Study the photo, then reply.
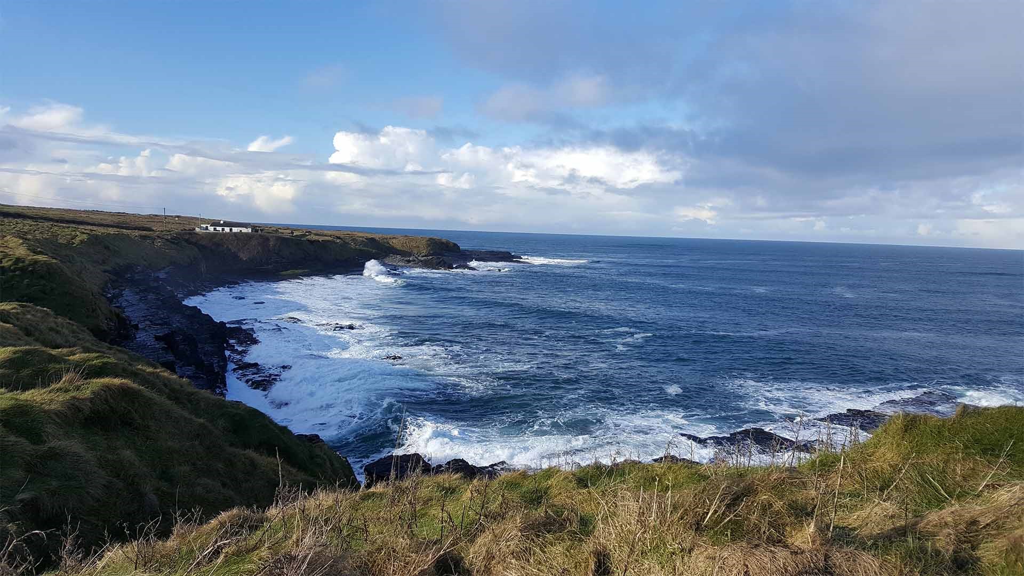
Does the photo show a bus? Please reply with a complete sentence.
No, I can see no bus in this picture.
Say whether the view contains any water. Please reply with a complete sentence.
Yes, some water is visible.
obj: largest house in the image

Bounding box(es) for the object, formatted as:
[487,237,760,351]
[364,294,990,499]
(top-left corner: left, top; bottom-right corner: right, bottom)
[195,219,257,234]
